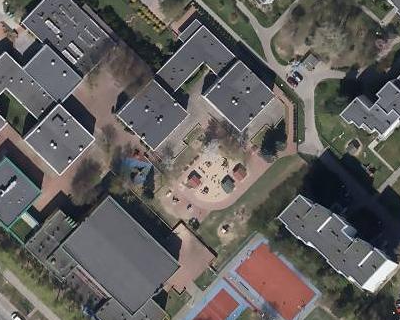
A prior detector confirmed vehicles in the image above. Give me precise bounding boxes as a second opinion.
[11,313,23,320]
[294,71,303,81]
[288,75,299,86]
